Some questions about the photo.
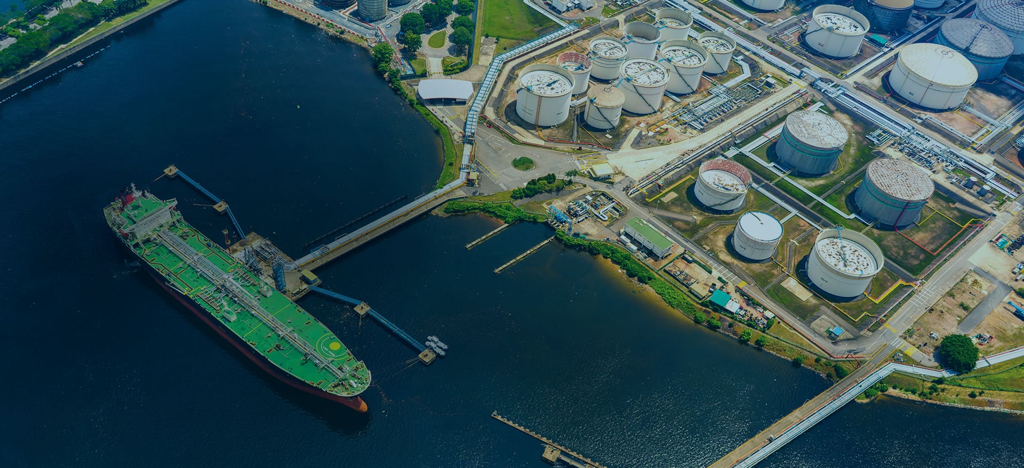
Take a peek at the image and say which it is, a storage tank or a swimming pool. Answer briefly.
storage tank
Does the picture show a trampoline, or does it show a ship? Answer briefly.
ship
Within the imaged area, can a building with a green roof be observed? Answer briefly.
Yes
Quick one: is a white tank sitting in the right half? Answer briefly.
Yes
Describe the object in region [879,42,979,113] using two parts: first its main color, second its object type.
white storage tank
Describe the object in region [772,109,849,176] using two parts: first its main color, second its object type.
white storage tank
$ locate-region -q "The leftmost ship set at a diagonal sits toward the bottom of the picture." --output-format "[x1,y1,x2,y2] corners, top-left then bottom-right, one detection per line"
[97,184,369,411]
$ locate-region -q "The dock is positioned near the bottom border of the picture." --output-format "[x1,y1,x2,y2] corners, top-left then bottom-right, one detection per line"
[492,409,611,468]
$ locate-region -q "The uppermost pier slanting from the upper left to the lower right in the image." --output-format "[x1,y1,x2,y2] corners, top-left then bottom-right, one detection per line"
[227,232,323,302]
